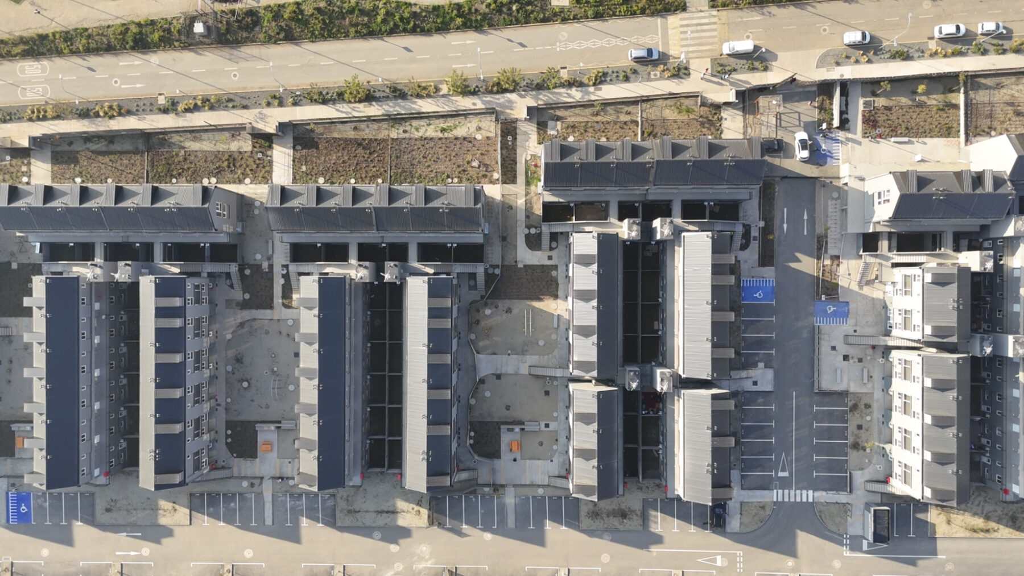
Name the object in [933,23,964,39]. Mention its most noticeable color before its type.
white car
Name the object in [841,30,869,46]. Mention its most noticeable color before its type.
white car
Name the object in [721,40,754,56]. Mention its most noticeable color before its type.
white vehicle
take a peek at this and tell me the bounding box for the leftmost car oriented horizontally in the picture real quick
[628,47,658,62]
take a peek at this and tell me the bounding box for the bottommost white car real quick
[794,132,809,161]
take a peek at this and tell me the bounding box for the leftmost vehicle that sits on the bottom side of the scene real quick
[712,502,727,533]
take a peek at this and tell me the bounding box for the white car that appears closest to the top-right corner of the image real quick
[976,21,1001,35]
